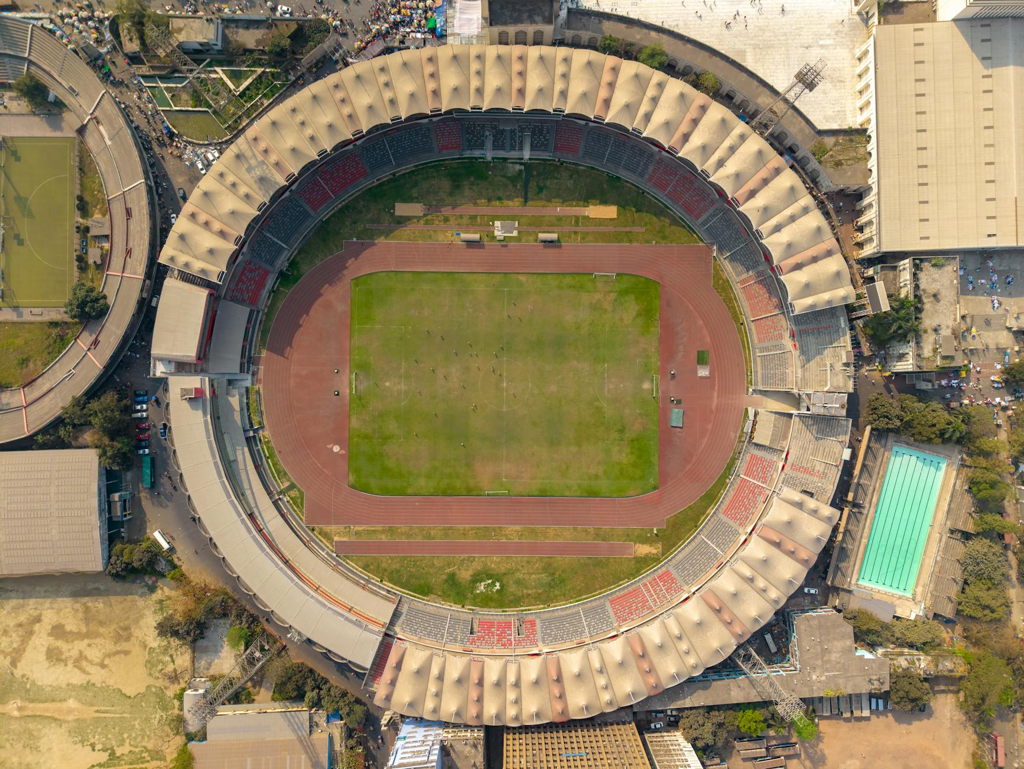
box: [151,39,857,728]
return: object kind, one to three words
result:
stadium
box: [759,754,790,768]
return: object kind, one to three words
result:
vehicle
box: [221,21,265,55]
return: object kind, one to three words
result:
building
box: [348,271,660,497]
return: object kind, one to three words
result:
soccer field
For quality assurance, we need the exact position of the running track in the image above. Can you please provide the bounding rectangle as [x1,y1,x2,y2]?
[253,241,763,528]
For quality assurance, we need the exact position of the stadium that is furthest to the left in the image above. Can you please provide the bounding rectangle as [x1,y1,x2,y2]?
[0,14,165,451]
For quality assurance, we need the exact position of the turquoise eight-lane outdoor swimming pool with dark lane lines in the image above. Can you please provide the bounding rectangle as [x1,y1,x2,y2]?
[844,435,961,618]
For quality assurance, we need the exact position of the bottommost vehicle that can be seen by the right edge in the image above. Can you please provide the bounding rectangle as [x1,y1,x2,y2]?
[990,732,1005,766]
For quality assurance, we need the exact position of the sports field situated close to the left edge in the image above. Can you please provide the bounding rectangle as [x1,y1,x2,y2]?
[0,136,76,308]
